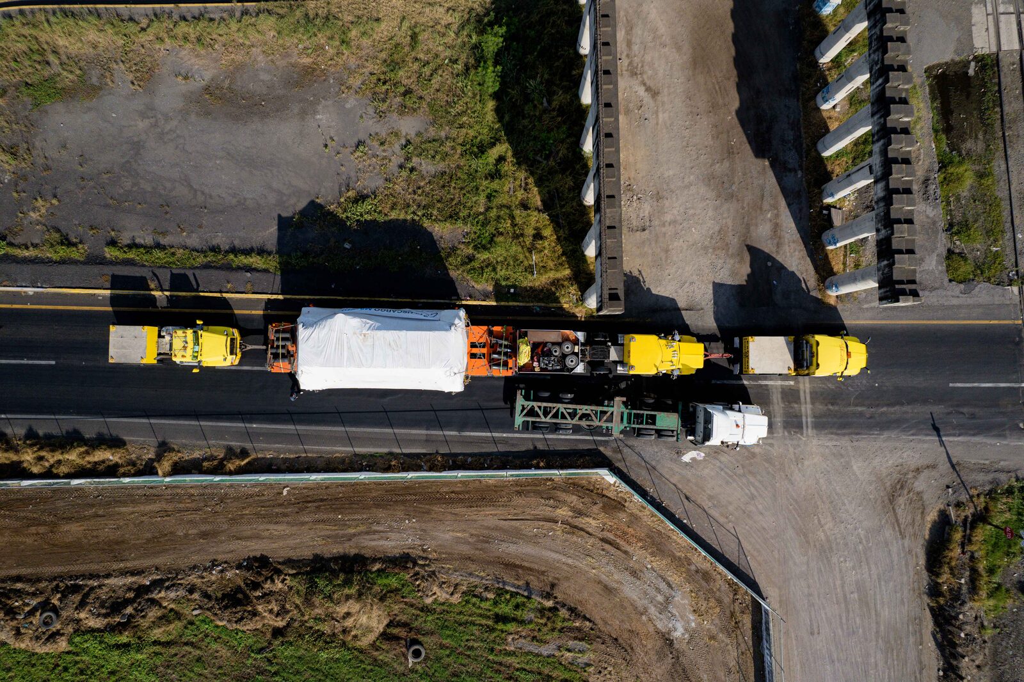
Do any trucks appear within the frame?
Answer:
Yes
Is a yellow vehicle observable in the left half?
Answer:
Yes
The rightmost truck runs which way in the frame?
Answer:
from left to right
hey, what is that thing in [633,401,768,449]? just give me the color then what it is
white truck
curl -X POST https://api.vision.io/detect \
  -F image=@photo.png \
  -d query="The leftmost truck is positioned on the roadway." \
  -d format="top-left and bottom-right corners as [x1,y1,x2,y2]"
[110,320,245,371]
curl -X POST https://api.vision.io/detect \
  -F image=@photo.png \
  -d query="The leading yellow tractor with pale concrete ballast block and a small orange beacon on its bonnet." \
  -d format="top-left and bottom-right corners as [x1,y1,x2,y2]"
[727,330,873,382]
